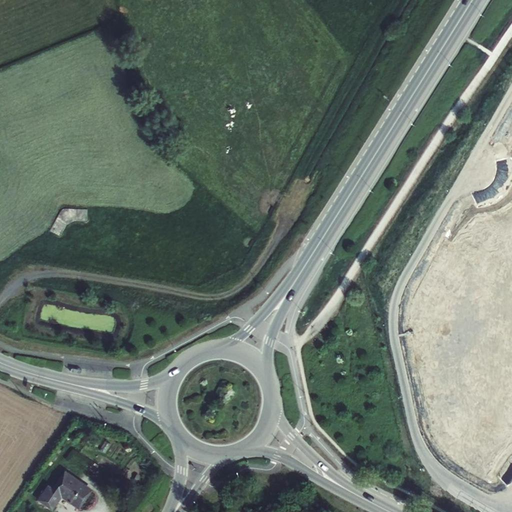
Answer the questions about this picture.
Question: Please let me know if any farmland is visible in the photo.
Yes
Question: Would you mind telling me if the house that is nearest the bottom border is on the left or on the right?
left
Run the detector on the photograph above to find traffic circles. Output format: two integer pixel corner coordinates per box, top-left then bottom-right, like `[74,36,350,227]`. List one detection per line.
[157,340,282,465]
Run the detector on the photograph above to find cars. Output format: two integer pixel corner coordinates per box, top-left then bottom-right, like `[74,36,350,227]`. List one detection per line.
[318,461,329,471]
[168,368,180,376]
[70,368,82,374]
[362,491,374,502]
[286,289,296,302]
[132,404,146,412]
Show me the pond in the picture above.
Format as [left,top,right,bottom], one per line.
[34,299,123,338]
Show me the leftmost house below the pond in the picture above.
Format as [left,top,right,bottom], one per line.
[39,471,92,512]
